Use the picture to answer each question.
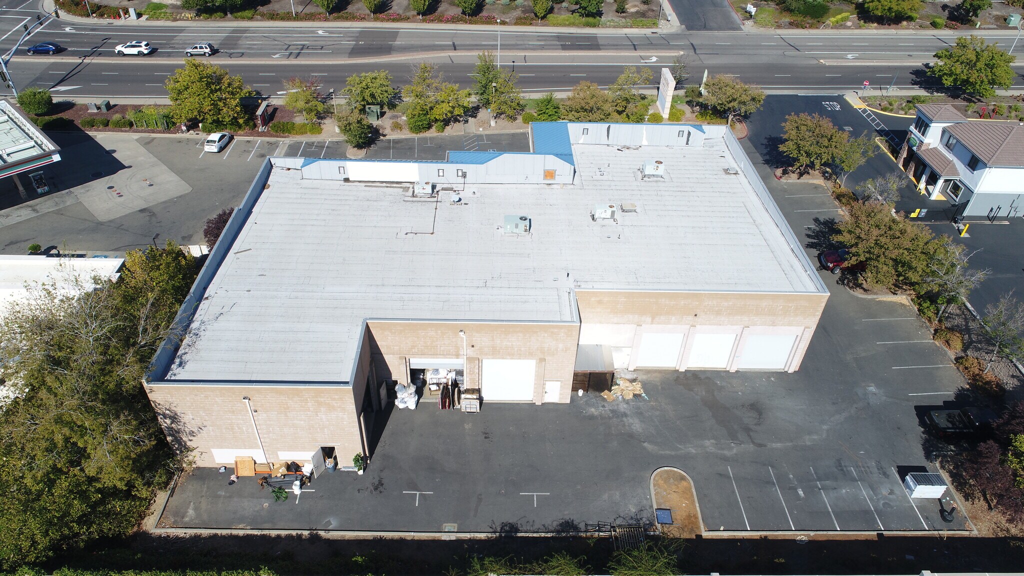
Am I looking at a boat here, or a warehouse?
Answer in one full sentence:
I can see a warehouse in this picture.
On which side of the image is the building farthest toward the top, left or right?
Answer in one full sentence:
You can find the building farthest toward the top on the right side of the picture.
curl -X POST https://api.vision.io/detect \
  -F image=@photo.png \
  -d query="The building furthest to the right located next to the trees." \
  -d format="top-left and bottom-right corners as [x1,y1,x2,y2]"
[892,102,1024,217]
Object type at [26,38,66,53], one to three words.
car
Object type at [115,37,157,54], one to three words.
car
